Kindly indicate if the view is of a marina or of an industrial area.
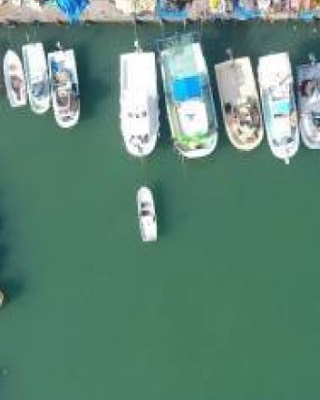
marina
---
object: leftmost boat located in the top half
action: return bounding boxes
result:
[4,49,27,109]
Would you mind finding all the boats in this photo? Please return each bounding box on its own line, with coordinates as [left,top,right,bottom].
[139,186,156,246]
[256,51,298,161]
[48,44,78,129]
[214,49,263,151]
[21,35,49,115]
[298,56,320,149]
[4,49,27,109]
[153,21,221,159]
[117,42,162,158]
